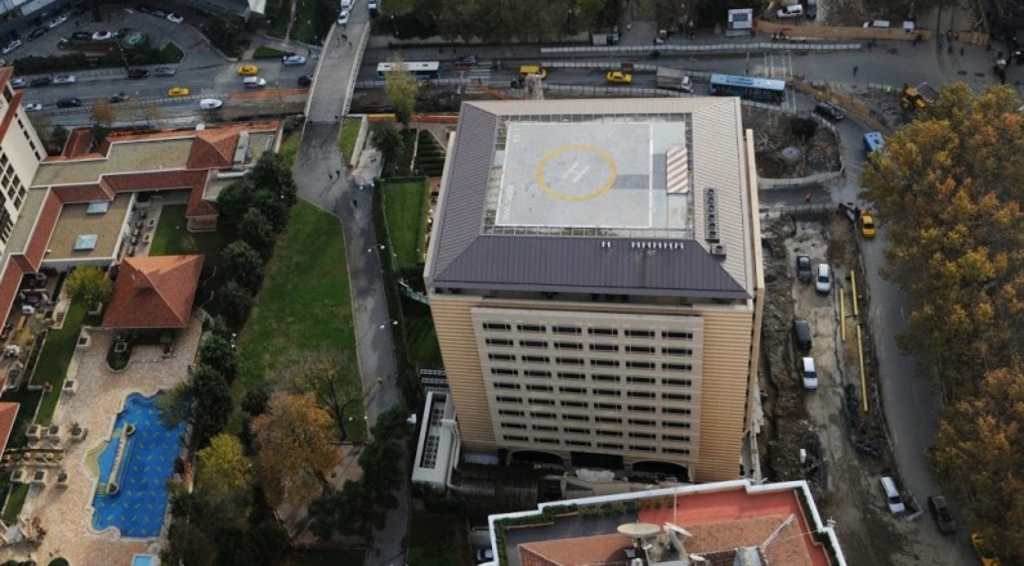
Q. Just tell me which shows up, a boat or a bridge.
bridge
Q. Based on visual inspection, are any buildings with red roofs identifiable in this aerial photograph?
Yes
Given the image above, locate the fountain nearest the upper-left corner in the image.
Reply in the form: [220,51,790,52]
[122,32,145,48]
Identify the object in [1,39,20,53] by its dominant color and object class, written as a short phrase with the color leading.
gray car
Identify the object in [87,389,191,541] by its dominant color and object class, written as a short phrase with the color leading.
blue swimming pool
